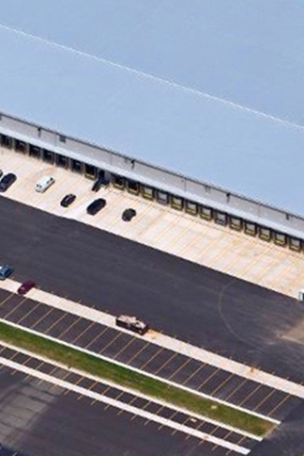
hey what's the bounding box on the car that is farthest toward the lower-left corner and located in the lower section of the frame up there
[16,279,36,293]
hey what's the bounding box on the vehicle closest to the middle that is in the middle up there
[120,207,136,220]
